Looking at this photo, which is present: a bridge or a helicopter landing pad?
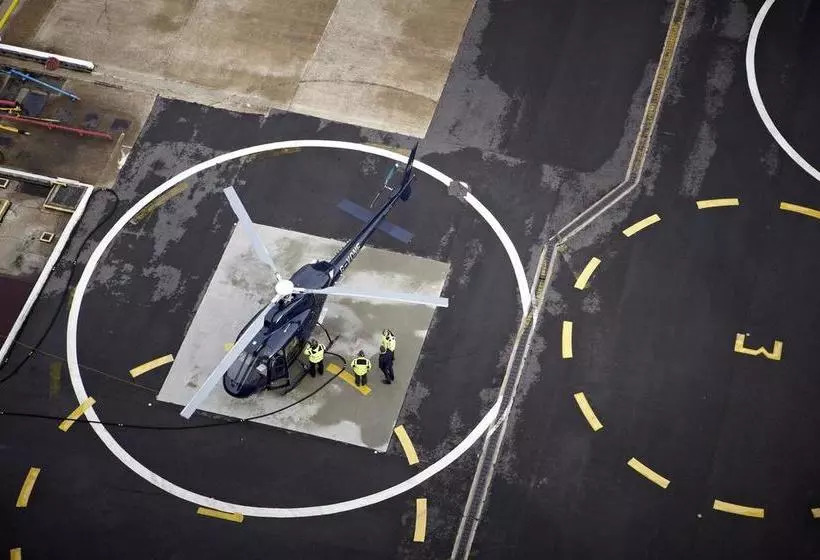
helicopter landing pad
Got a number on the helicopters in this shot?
1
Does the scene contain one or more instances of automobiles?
No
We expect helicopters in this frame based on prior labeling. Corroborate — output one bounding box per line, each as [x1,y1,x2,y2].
[183,145,448,416]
